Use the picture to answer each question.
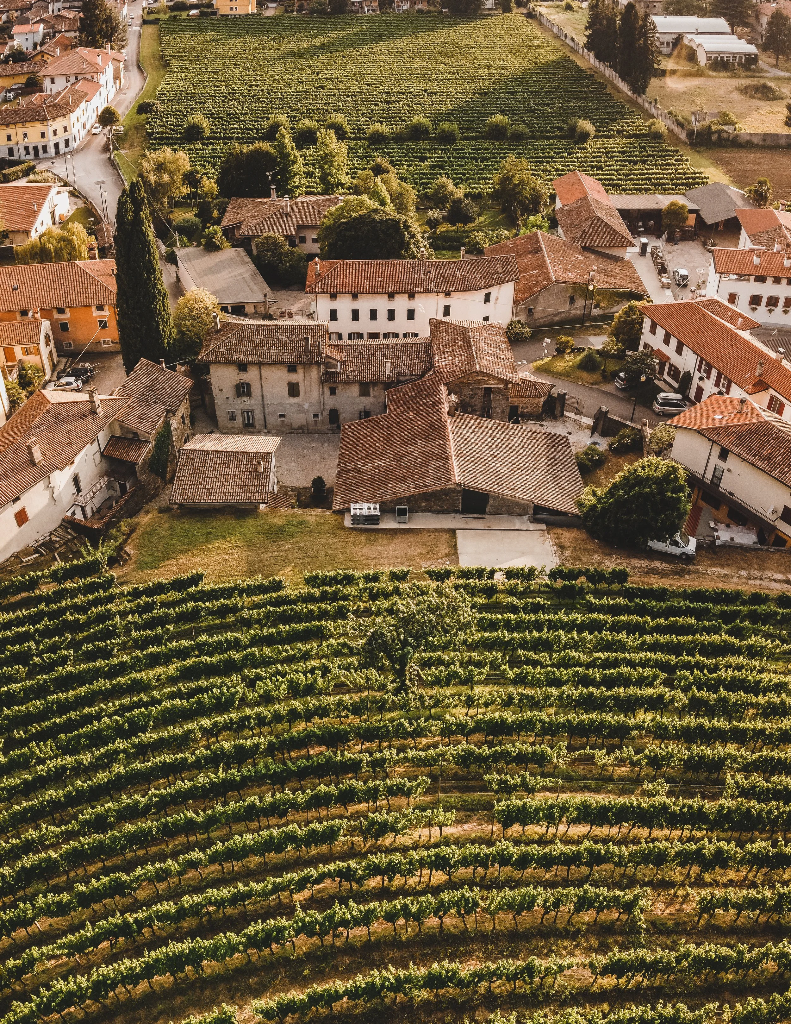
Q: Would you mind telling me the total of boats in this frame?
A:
0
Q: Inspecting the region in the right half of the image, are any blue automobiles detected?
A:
No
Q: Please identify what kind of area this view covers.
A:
residential area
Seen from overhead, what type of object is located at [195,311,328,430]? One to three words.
house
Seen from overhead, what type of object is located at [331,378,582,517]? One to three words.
barn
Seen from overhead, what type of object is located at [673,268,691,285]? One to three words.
car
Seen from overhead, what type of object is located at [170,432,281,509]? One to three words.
house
